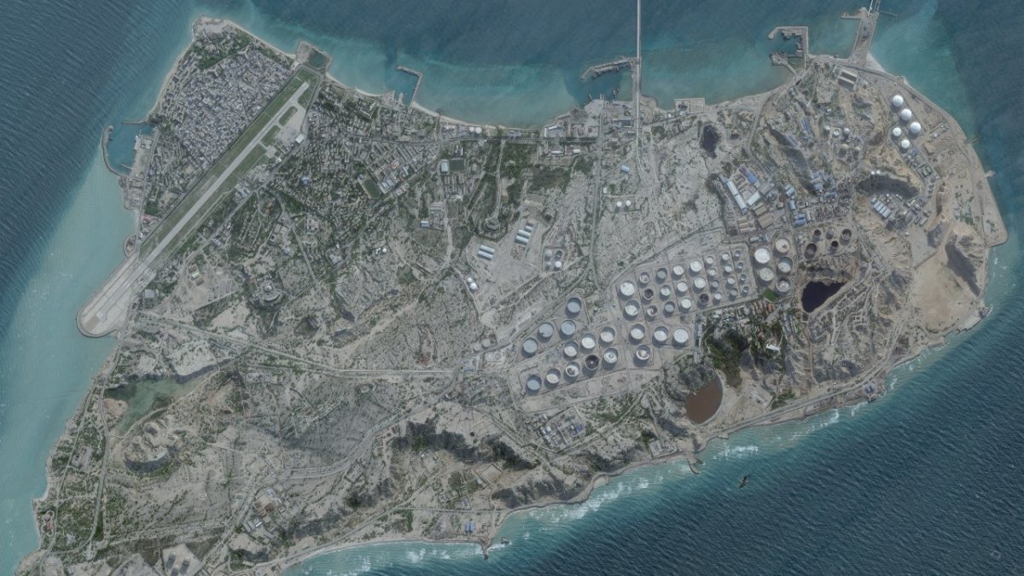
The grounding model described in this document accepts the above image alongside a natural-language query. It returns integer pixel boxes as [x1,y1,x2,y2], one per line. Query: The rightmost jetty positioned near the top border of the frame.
[841,0,896,57]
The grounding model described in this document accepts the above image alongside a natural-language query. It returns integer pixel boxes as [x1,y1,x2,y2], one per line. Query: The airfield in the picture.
[79,70,323,334]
